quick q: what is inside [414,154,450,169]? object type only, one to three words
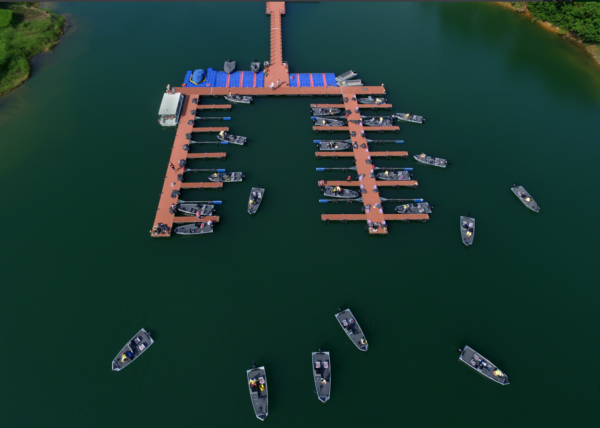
boat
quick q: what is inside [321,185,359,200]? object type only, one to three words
boat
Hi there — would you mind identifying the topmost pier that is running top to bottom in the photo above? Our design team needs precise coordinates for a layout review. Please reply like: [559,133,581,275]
[264,0,288,87]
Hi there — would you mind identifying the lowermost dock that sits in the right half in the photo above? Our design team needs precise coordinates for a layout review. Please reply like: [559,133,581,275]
[311,94,428,235]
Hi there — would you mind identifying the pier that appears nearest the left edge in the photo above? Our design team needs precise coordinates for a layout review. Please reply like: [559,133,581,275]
[151,94,232,237]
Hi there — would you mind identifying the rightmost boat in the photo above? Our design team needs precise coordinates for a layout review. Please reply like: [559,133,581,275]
[510,184,540,212]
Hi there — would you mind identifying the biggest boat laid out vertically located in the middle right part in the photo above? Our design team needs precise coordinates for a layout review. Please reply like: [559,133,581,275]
[459,213,475,246]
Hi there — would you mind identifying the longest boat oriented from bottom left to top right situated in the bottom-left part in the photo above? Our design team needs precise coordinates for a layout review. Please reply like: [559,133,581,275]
[111,329,156,372]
